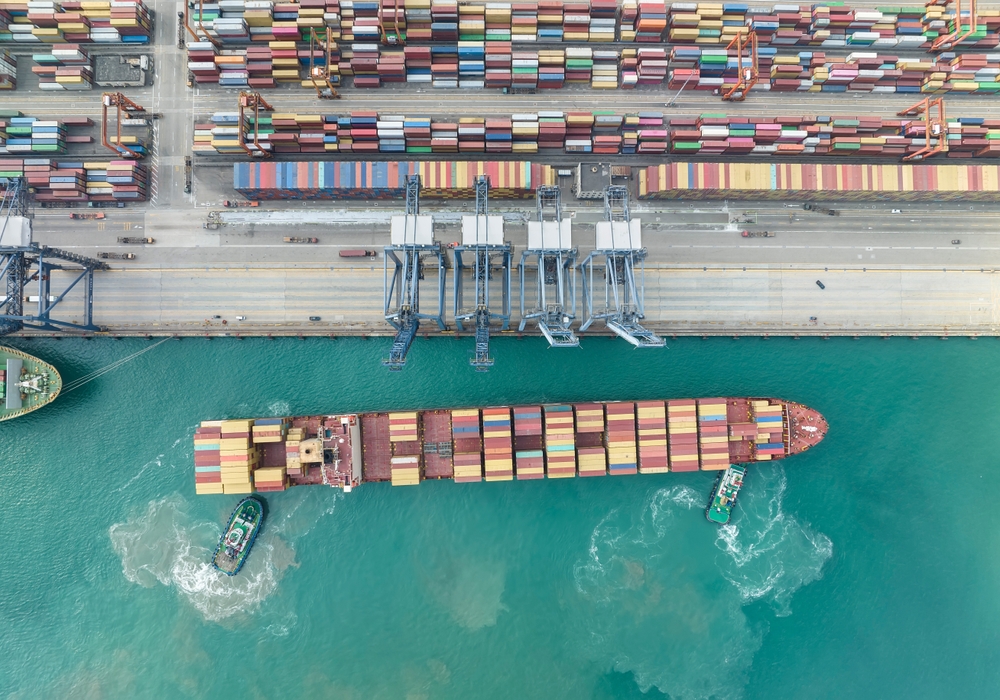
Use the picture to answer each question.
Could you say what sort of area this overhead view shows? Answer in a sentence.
It's a port.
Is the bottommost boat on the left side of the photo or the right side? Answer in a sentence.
The bottommost boat sits on the left side.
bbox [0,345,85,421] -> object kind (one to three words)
ship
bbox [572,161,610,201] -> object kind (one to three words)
building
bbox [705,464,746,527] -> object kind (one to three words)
boat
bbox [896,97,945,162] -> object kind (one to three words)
container crane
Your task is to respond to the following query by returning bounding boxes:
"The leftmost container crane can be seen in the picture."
[0,172,120,334]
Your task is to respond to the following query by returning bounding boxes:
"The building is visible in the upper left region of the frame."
[95,55,148,89]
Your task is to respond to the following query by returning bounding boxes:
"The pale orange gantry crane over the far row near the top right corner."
[925,0,976,53]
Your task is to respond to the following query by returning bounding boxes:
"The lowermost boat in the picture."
[213,496,263,578]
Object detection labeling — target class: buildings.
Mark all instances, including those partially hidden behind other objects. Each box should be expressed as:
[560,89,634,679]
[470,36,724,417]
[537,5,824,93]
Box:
[572,161,610,201]
[95,55,148,89]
